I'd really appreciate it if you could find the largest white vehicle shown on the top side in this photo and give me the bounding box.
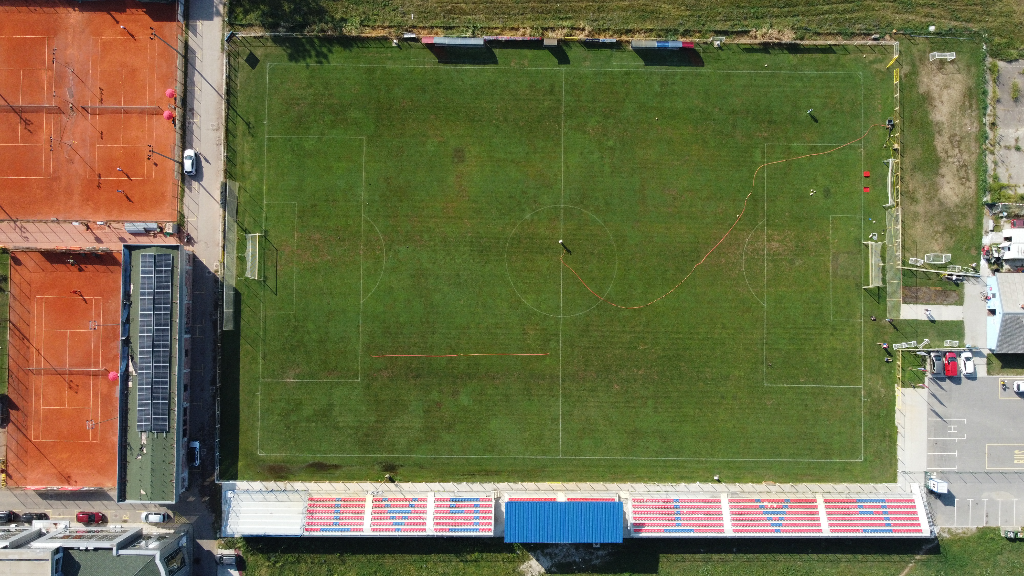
[182,150,197,175]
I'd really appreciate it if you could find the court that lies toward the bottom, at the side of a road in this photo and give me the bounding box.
[6,251,123,487]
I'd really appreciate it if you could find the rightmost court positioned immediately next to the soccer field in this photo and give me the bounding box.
[67,0,178,223]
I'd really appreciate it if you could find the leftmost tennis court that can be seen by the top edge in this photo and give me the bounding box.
[0,0,70,221]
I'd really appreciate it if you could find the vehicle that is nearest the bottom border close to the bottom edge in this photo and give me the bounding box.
[215,552,239,567]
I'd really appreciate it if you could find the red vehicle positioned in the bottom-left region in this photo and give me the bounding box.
[75,510,105,525]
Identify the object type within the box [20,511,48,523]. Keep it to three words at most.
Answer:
vehicle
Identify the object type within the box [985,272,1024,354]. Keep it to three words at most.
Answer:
building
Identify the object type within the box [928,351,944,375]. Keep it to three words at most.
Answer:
car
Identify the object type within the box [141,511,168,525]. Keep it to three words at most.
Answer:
car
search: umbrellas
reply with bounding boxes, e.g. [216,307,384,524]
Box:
[108,370,120,382]
[165,88,177,100]
[163,110,176,121]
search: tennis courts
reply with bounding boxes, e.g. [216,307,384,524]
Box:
[0,0,70,221]
[6,251,123,487]
[67,0,178,223]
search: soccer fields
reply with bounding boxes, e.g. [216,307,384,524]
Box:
[218,36,898,483]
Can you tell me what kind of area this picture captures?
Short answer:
sports ground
